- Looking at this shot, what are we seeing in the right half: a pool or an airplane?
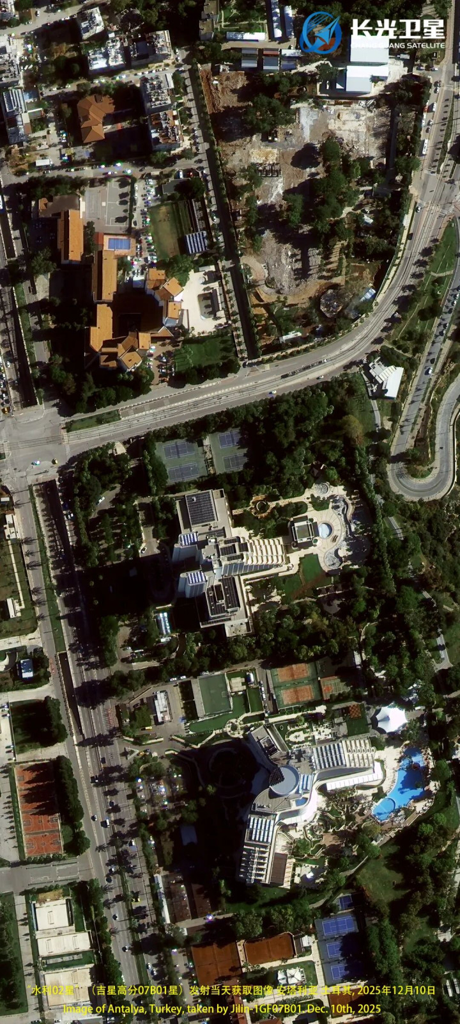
pool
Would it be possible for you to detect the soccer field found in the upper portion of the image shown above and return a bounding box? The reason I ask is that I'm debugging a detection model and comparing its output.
[153,202,181,262]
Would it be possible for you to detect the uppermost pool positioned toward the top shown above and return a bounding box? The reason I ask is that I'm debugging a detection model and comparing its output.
[197,291,215,318]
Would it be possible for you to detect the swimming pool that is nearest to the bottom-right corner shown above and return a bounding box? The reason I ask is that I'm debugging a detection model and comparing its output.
[371,745,429,822]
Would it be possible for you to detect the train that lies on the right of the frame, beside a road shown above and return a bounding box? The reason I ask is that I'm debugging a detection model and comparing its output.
[281,357,328,377]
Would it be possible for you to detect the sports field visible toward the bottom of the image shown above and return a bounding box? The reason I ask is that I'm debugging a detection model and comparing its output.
[192,673,233,718]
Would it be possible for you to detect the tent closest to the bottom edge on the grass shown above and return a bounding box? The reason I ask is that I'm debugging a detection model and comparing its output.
[278,968,304,984]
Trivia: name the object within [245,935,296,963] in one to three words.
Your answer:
tennis court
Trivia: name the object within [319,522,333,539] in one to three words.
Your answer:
swimming pool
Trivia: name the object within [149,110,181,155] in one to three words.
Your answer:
building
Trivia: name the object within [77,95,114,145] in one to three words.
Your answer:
house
